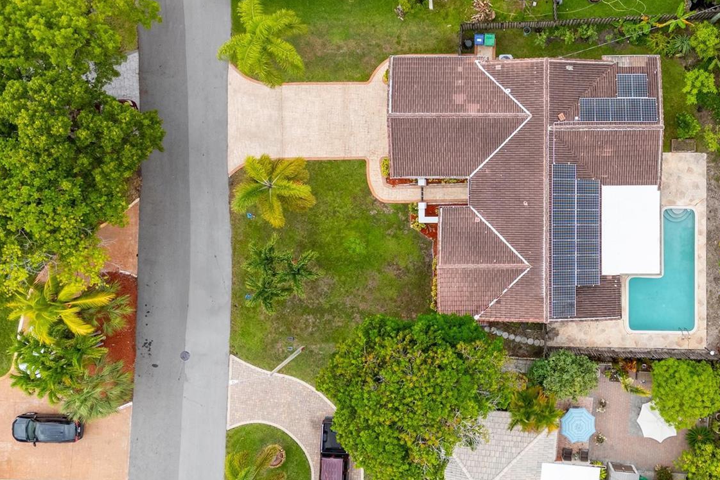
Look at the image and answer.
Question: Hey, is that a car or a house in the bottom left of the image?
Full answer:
The one visible in the bottom left of the image is a car.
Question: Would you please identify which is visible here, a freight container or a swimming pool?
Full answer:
This aerial view contains a swimming pool.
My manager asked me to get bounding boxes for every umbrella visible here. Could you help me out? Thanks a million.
[560,405,595,440]
[631,396,677,445]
